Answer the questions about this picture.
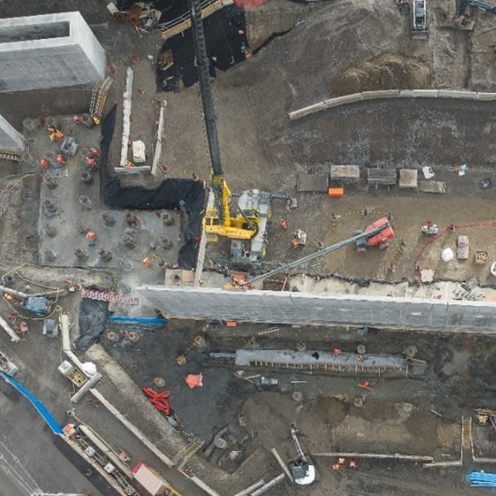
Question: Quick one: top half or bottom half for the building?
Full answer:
The bottom half of the photo is where the building is.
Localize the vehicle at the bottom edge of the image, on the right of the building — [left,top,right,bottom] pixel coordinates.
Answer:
[283,423,320,496]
